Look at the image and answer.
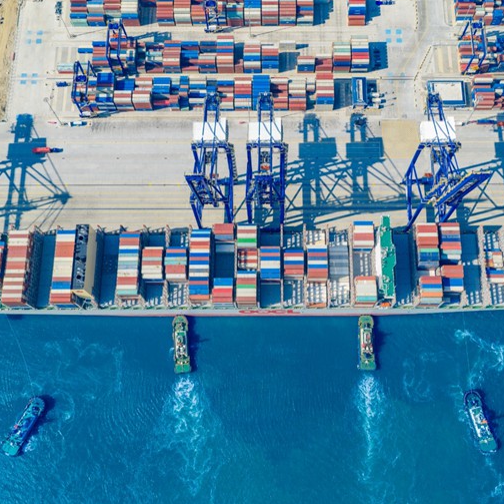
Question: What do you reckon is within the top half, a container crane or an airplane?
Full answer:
What appears within the top half is a container crane.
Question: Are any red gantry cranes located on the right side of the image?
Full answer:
No, the scene shows no red gantry crane on the right side of the image.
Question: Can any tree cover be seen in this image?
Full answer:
No, tree cover can't be seen anywhere here.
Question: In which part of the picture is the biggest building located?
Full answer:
Look in the top right portion of the view to spot the biggest building.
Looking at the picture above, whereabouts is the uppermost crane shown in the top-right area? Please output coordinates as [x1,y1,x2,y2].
[460,20,491,74]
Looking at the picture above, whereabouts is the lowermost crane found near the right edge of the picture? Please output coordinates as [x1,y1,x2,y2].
[401,92,494,231]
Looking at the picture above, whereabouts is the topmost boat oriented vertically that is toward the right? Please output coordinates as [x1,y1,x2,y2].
[356,315,377,374]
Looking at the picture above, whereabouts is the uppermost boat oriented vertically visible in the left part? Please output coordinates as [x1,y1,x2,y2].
[172,316,192,374]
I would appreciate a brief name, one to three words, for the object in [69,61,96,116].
crane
